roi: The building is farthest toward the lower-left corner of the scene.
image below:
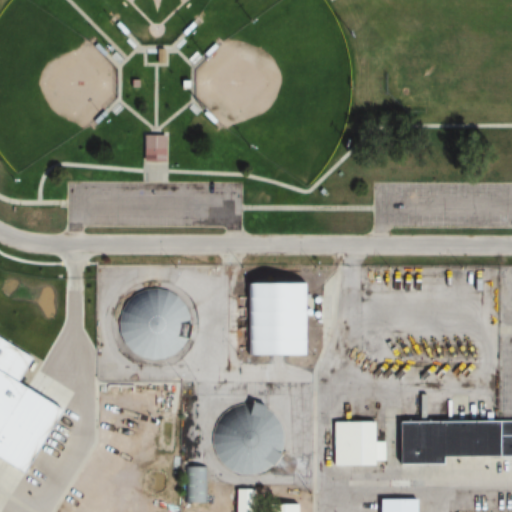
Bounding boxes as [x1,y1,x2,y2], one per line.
[0,370,60,474]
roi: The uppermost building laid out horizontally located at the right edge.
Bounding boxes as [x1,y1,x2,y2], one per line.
[402,421,503,464]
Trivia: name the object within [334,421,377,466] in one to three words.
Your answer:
building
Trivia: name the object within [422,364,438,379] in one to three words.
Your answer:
vehicle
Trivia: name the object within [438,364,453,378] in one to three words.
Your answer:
vehicle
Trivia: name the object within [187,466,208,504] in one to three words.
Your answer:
shed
